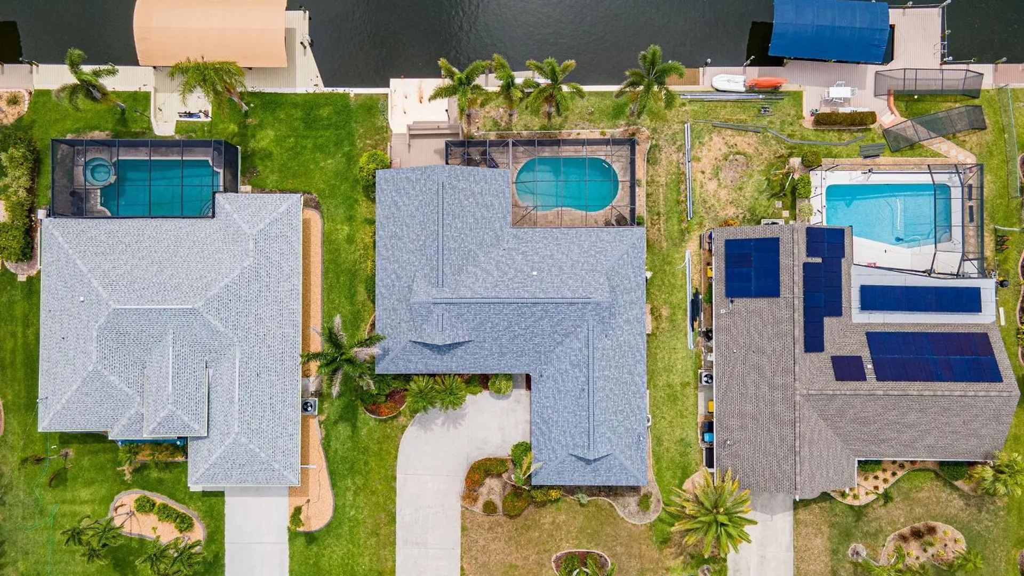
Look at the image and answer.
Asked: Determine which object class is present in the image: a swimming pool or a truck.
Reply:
swimming pool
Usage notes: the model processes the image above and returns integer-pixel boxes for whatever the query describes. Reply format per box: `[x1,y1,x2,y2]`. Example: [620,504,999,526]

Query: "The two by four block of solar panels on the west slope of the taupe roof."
[725,238,781,297]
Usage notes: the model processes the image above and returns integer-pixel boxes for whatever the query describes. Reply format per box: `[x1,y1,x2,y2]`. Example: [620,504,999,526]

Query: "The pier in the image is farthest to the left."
[0,62,34,84]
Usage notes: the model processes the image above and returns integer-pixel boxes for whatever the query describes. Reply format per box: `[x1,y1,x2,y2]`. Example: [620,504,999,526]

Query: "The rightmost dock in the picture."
[993,64,1024,84]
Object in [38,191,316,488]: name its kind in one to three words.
house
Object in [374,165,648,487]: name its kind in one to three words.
house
